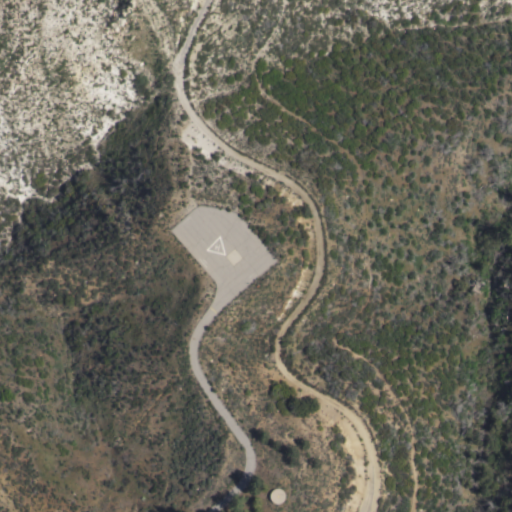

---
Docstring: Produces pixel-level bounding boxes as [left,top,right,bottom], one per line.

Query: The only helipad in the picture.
[172,206,276,313]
